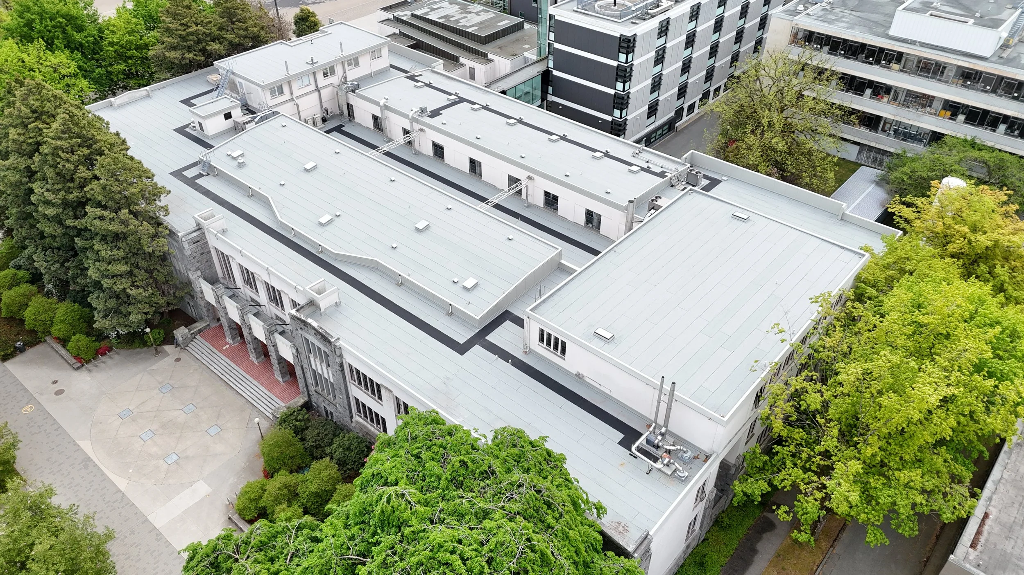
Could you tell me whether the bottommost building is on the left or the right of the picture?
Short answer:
right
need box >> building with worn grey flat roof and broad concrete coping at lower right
[936,397,1024,575]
